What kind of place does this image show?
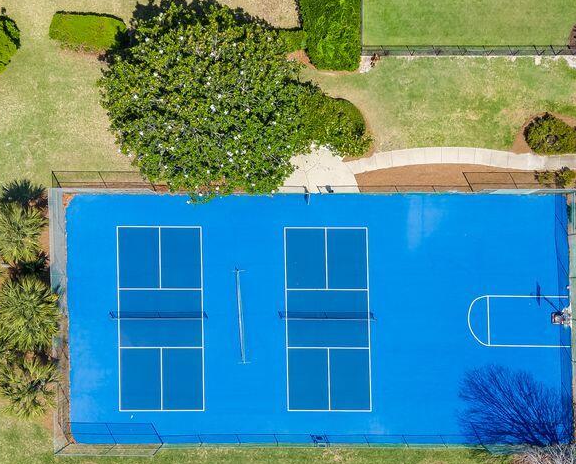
sports ground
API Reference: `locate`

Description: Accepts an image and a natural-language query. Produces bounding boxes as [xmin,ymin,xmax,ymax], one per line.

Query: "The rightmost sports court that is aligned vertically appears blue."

[284,227,372,412]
